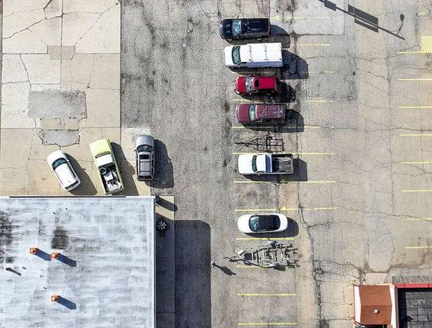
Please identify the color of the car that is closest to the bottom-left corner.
white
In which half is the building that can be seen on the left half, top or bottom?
bottom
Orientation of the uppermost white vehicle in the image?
horizontally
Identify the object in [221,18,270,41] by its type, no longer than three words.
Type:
car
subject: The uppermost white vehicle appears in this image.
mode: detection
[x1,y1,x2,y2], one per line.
[225,44,284,68]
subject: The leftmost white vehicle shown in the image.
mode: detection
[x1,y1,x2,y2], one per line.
[50,151,80,192]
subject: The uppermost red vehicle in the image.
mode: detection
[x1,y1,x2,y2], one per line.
[235,76,280,97]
